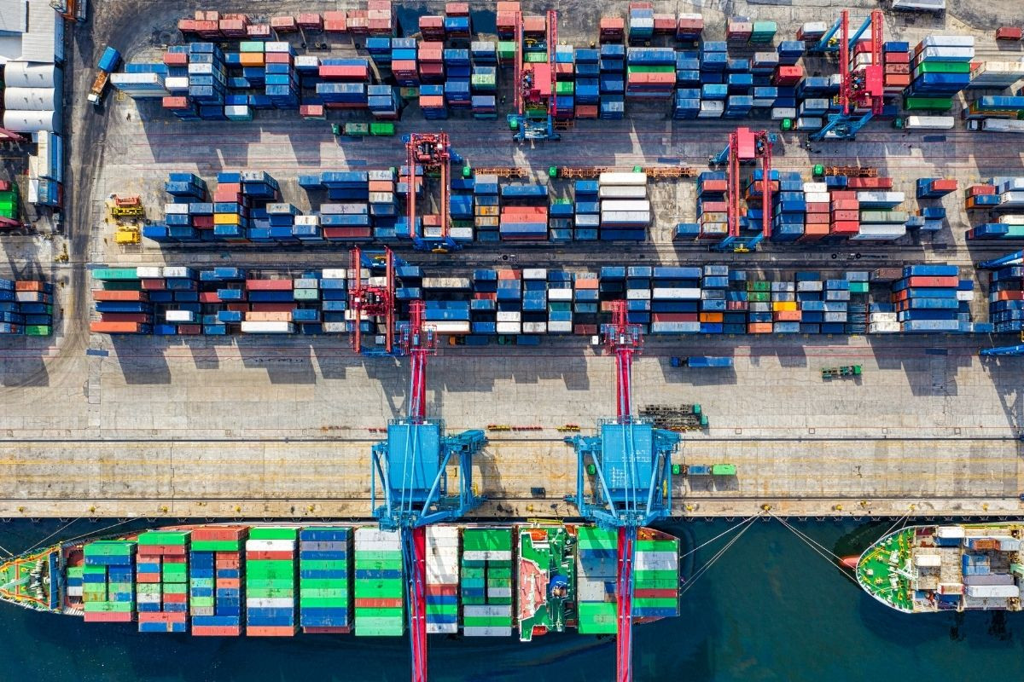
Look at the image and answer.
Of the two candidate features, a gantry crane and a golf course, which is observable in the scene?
gantry crane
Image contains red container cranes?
Yes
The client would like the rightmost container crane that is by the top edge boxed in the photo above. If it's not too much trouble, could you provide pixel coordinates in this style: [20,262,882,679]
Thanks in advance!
[810,7,883,138]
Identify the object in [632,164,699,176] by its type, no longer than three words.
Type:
vehicle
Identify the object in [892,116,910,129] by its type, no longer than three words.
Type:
vehicle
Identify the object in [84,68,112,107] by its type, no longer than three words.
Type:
truck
